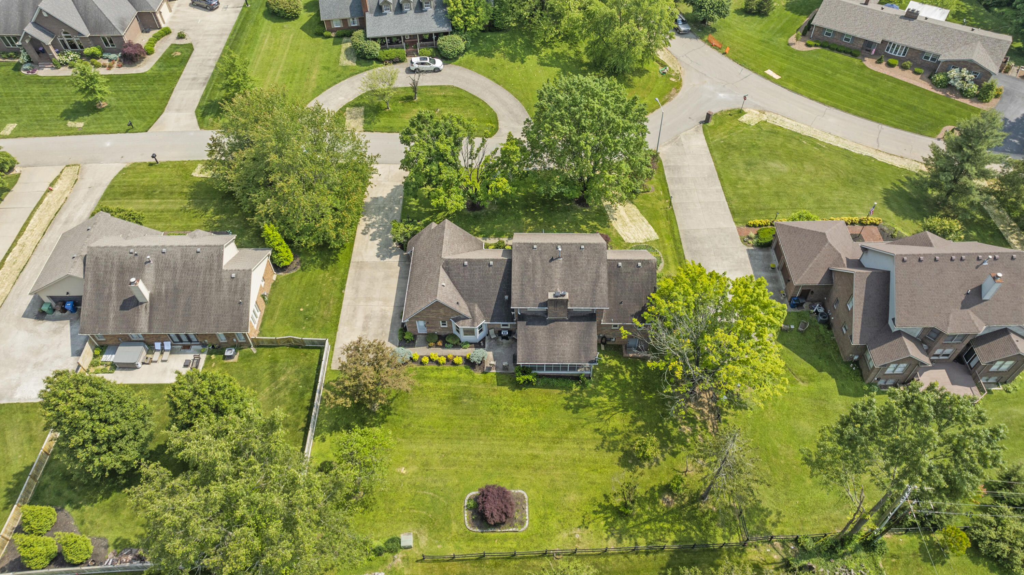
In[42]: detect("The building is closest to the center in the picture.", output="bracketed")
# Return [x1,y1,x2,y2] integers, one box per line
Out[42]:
[401,219,657,376]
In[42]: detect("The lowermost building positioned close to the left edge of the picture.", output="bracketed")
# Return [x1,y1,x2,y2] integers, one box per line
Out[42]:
[28,212,277,347]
